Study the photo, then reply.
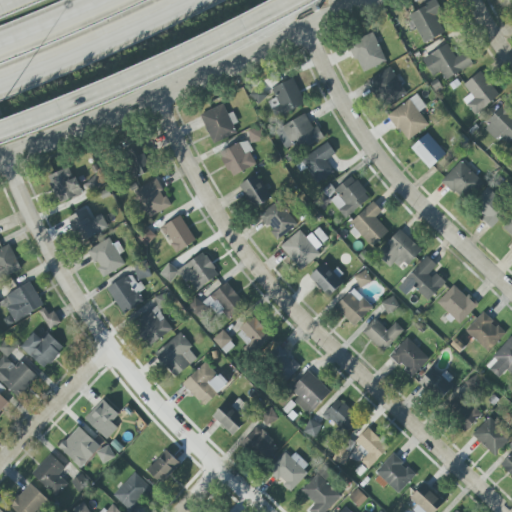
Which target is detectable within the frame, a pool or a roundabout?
pool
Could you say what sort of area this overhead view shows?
residential area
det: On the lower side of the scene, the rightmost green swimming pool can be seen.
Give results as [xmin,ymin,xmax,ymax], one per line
[437,348,453,370]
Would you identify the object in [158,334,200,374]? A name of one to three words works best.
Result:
house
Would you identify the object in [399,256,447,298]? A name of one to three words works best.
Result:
house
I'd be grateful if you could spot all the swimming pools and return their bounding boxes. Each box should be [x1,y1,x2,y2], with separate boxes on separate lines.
[340,252,352,264]
[352,240,364,252]
[437,348,453,370]
[122,431,133,442]
[360,281,385,302]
